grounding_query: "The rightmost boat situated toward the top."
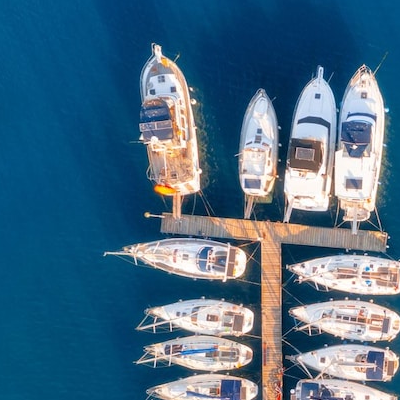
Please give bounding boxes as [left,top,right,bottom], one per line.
[332,60,390,234]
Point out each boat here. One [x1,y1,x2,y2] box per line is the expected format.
[131,299,262,338]
[232,85,284,226]
[283,340,400,381]
[283,297,400,343]
[283,250,400,298]
[280,62,338,227]
[125,42,209,219]
[141,370,262,400]
[101,234,263,281]
[128,334,262,373]
[152,184,177,194]
[332,60,390,234]
[283,373,400,400]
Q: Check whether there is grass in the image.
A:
No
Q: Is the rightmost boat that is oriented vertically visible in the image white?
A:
Yes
